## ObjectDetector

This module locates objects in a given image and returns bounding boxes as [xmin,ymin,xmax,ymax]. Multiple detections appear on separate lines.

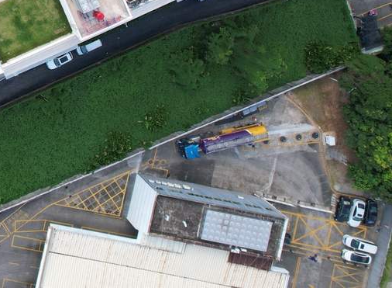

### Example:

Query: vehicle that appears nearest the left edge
[45,51,75,69]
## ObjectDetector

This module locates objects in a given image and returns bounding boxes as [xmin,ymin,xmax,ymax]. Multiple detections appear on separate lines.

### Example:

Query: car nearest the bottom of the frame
[342,248,375,269]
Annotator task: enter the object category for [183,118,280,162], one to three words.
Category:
truck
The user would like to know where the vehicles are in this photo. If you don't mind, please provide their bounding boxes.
[45,51,75,69]
[342,248,375,269]
[183,118,280,162]
[73,36,107,58]
[364,198,381,228]
[344,234,382,257]
[283,224,295,254]
[348,199,367,229]
[333,194,352,224]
